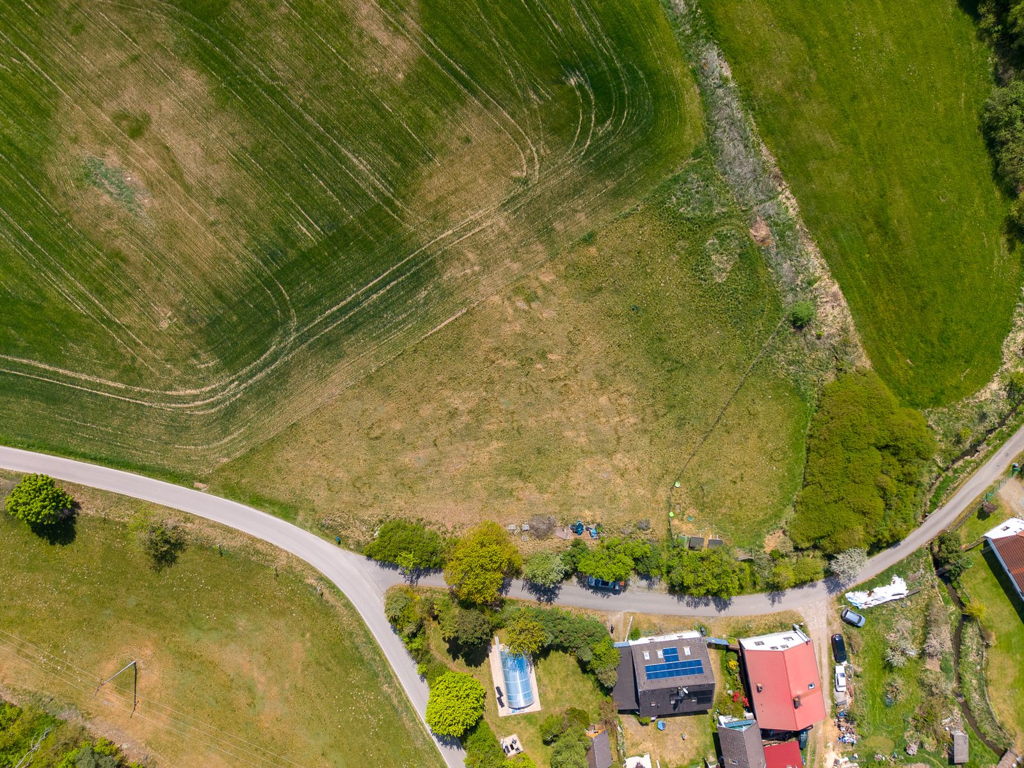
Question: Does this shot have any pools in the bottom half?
Yes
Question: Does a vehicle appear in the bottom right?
Yes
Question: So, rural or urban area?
rural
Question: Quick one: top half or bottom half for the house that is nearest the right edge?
bottom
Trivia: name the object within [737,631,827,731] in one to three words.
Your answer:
house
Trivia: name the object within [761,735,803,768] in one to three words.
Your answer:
shed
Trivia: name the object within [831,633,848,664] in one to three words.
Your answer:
car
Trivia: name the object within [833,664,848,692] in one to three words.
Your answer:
car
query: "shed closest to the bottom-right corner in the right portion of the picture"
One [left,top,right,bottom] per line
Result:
[946,728,969,763]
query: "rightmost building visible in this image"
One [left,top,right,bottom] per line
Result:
[984,520,1024,603]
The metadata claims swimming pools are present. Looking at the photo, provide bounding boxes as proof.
[503,647,533,706]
